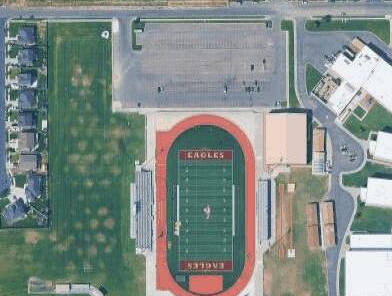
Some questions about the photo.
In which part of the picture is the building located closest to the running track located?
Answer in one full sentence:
The building located closest to the running track is located in the right region of the scene.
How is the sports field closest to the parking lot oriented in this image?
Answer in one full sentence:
In this picture, the sports field closest to the parking lot is oriented from top to bottom.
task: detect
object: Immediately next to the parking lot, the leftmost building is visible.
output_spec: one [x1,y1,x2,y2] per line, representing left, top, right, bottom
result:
[264,113,308,164]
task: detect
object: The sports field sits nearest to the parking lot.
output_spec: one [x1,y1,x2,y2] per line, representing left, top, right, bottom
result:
[166,125,245,295]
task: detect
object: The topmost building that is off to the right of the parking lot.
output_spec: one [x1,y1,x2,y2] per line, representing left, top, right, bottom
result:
[320,38,392,116]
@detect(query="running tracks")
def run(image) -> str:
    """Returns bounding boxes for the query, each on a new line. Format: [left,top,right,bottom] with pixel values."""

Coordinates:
[155,115,255,296]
